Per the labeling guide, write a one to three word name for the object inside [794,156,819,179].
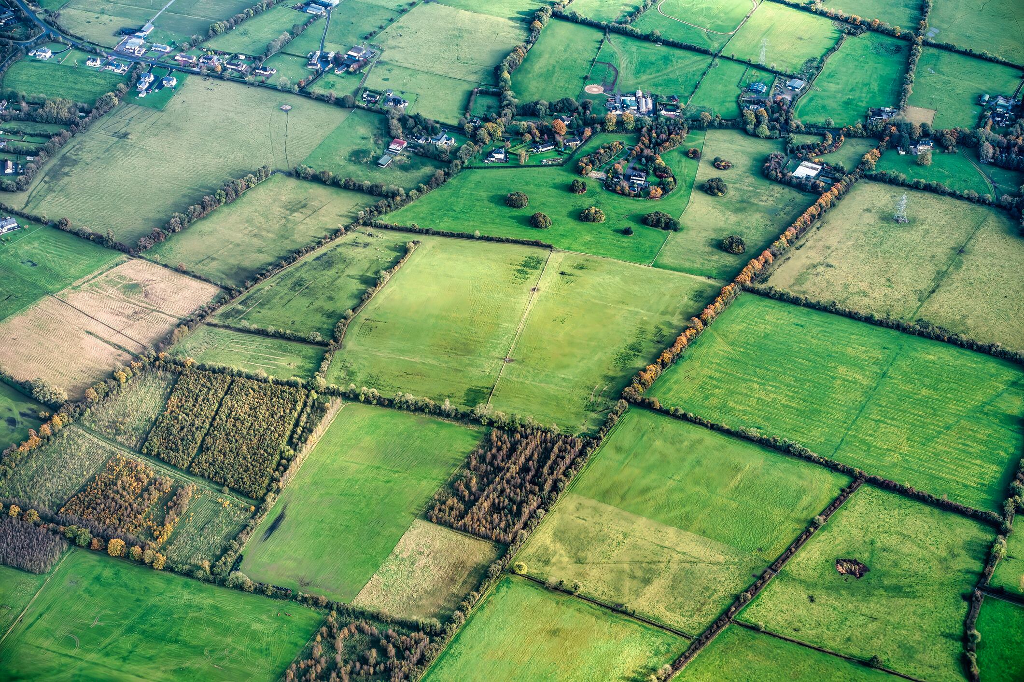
building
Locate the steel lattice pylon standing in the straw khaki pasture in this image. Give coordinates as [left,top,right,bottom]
[894,191,912,225]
